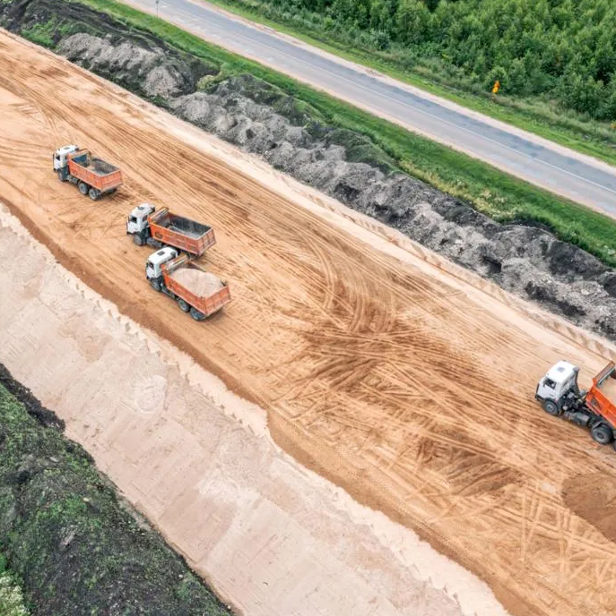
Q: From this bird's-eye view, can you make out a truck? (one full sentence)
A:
Yes, the picture does show a truck.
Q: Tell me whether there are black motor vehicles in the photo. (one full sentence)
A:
No, the picture doesn't show any black motor vehicle.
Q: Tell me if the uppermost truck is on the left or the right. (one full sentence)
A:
It is on the left.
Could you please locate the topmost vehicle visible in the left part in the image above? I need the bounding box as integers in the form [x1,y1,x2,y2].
[49,139,123,199]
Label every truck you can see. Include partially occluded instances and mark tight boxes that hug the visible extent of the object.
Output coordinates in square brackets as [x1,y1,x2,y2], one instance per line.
[534,352,616,445]
[123,199,214,261]
[141,239,236,319]
[49,139,123,199]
